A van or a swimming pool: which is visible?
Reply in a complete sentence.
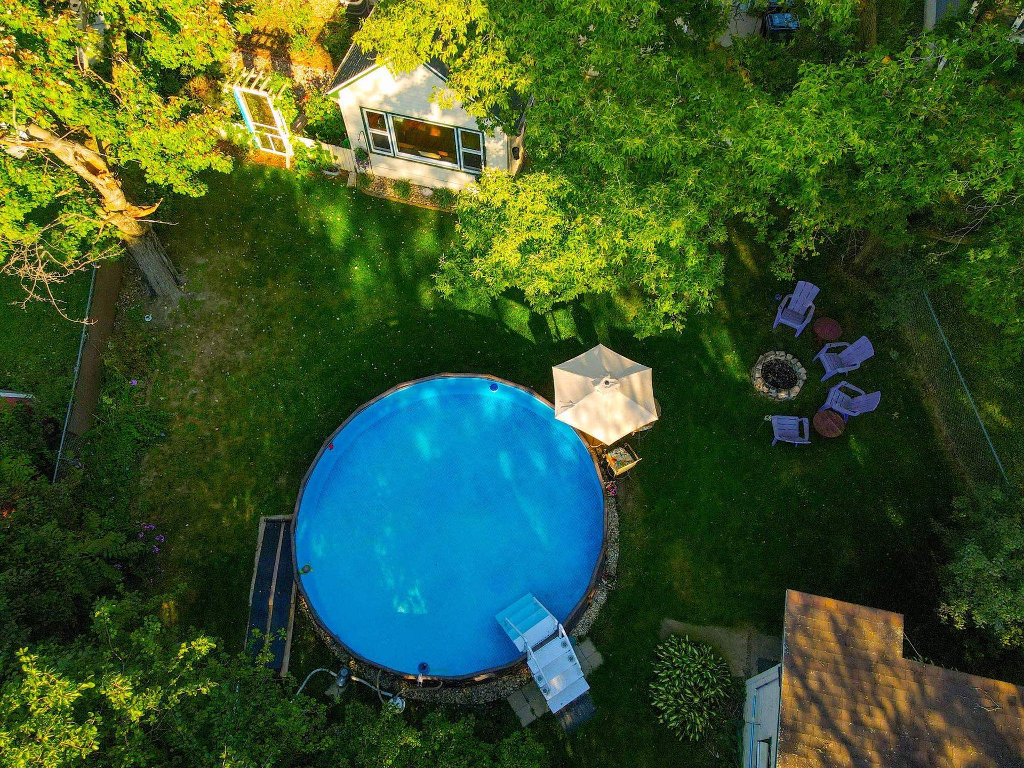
This aerial view contains a swimming pool.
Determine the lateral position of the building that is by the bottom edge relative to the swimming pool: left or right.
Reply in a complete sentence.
The swimming pool has the building that is by the bottom edge on its right side.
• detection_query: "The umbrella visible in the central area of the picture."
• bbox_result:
[551,343,659,447]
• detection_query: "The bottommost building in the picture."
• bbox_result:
[741,587,1024,768]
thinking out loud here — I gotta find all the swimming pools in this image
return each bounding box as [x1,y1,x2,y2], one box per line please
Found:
[291,374,607,686]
